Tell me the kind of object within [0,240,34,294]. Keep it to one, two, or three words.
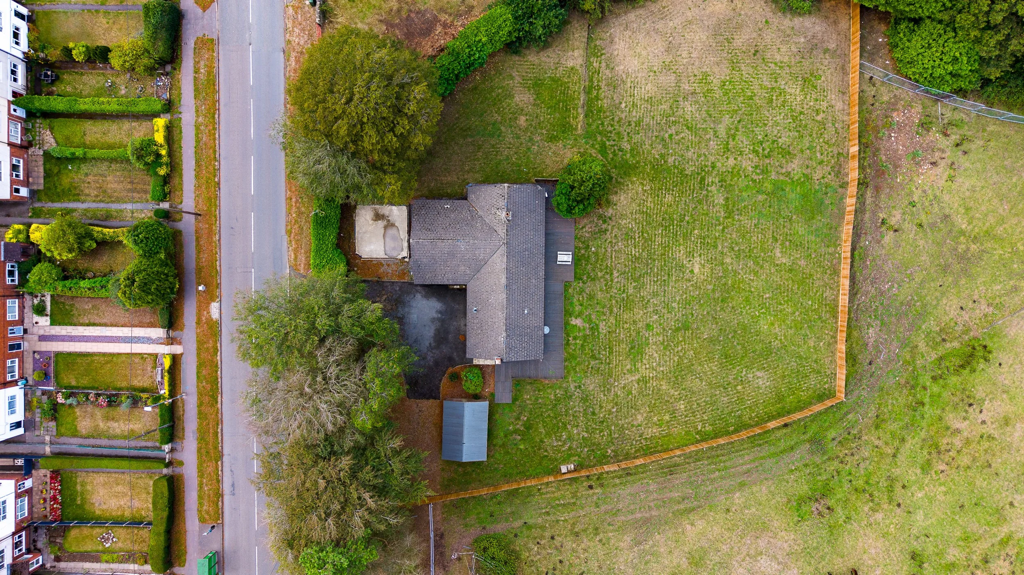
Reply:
house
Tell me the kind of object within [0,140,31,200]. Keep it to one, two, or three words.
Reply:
house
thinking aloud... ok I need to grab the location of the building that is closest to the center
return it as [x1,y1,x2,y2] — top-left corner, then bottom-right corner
[408,183,548,364]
